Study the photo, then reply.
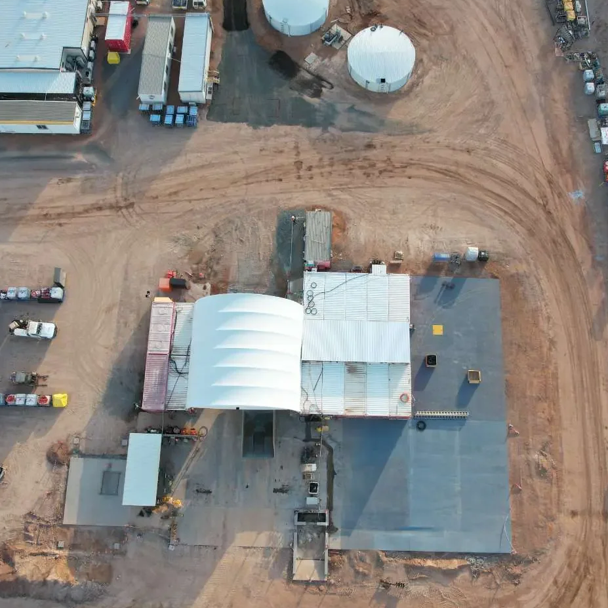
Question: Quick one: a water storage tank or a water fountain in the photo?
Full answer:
It is a water storage tank that can be seen here.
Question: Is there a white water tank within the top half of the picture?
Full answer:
Yes, the scene does show a white water tank within the top half of the picture.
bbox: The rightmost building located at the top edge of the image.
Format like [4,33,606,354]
[178,12,223,108]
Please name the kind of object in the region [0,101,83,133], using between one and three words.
shed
